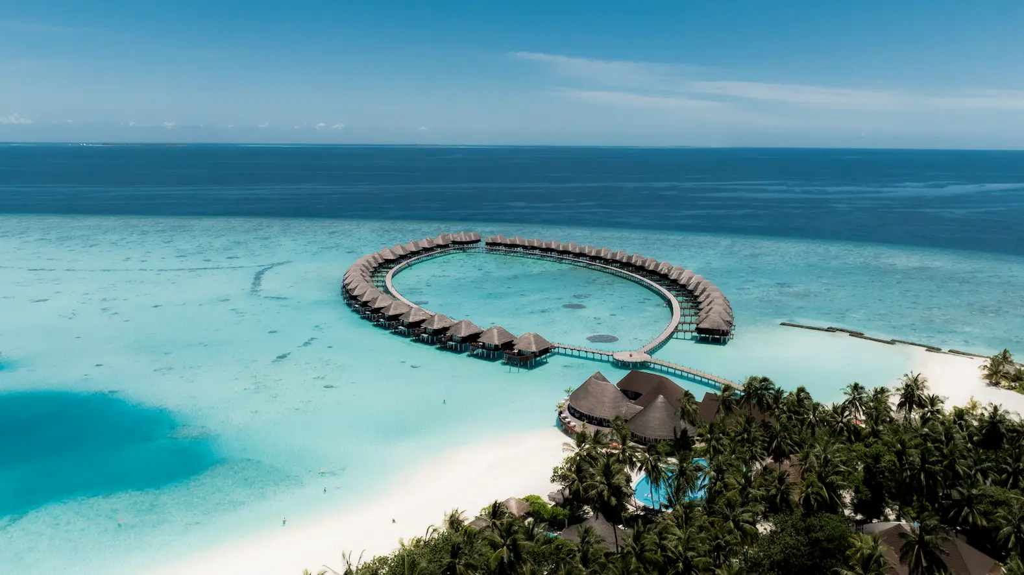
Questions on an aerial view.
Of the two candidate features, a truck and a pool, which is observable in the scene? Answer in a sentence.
The image shows a pool.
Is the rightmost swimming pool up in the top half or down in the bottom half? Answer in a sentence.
The bottom half of the photo is where the rightmost swimming pool is.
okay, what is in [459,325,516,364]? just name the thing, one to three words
house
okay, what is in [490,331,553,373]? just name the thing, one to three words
house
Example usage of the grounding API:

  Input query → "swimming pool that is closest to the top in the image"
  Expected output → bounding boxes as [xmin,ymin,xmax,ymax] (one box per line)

[631,456,747,510]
